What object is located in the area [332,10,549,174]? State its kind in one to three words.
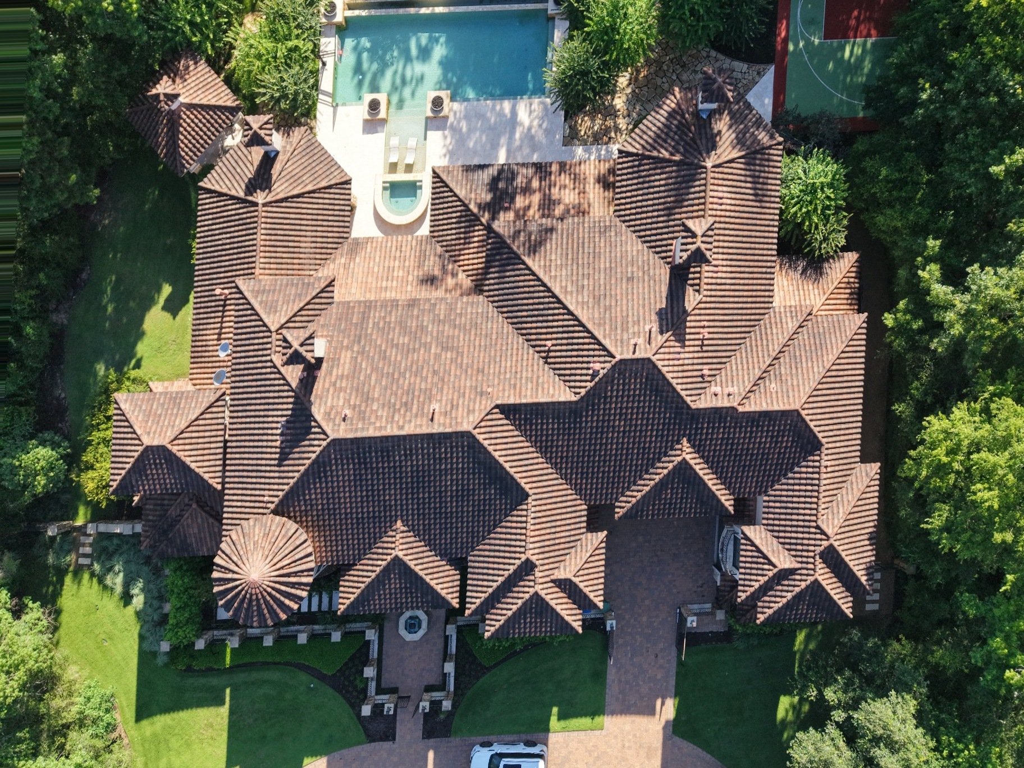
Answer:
swimming pool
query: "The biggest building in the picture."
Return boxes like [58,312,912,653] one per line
[106,64,883,640]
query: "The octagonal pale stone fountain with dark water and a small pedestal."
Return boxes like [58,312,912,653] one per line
[398,610,428,641]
